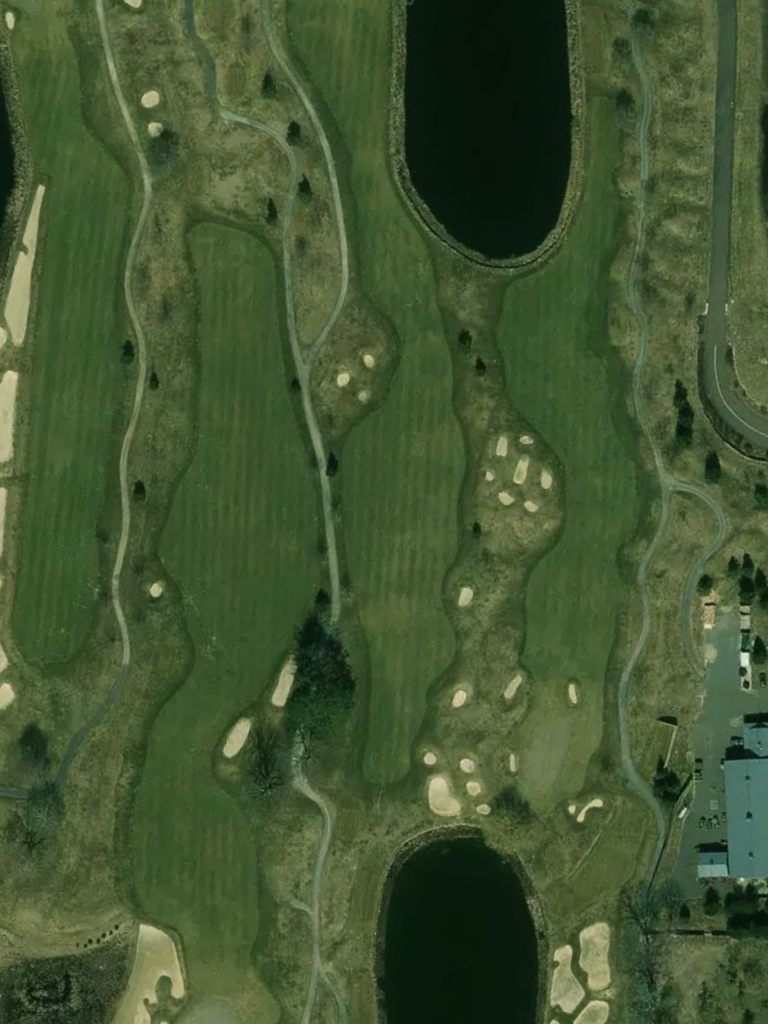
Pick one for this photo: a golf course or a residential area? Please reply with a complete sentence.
This image shows a golf course.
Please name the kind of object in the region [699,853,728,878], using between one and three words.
shed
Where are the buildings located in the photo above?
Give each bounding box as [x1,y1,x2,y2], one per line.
[699,853,728,878]
[745,724,768,760]
[725,760,768,879]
